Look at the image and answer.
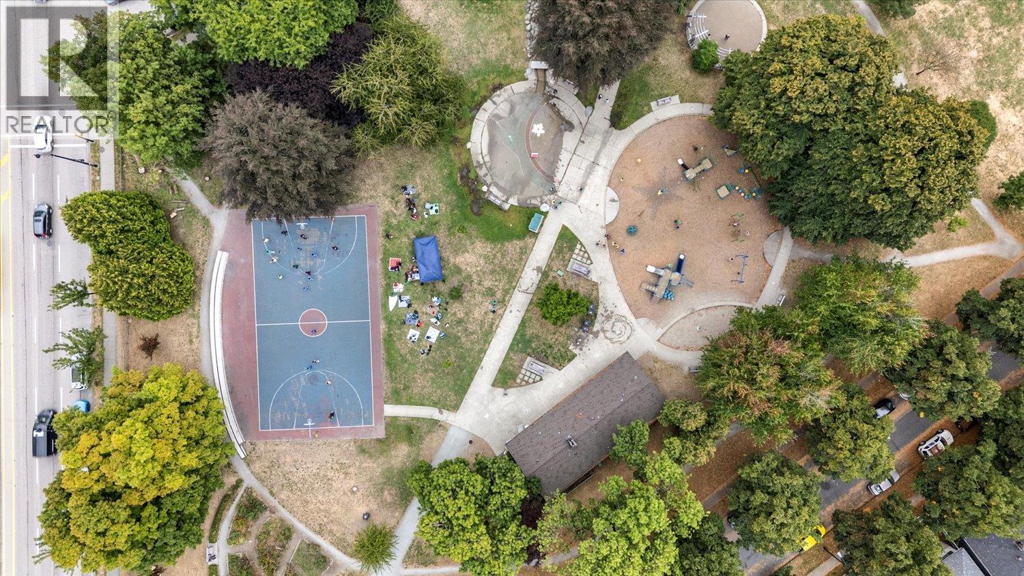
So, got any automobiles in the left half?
Yes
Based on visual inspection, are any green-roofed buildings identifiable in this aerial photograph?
No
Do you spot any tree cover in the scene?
Yes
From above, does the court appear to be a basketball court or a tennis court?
basketball court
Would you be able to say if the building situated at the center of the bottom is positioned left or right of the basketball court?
to the right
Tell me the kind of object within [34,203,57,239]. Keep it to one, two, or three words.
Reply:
car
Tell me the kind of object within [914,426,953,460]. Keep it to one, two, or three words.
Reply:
car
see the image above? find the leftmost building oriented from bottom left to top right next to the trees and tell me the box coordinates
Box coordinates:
[504,352,664,497]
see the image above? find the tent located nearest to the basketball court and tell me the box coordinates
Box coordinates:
[414,236,446,284]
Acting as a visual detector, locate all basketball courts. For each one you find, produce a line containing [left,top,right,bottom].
[221,205,386,441]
